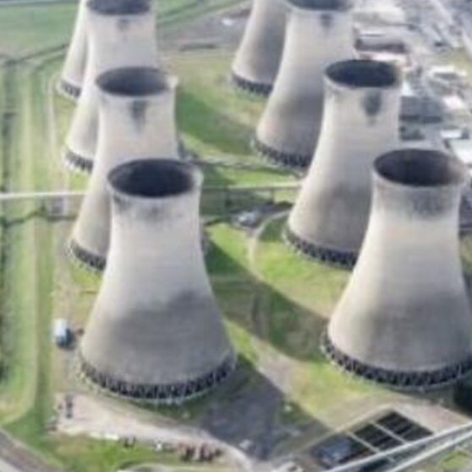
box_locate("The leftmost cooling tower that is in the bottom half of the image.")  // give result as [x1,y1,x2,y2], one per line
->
[77,157,241,412]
